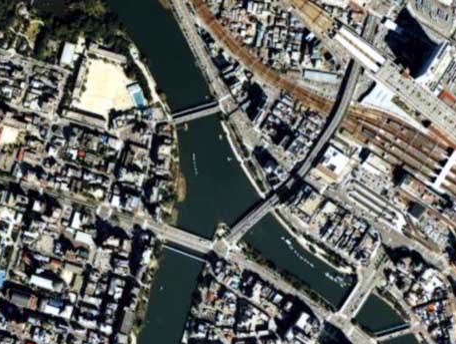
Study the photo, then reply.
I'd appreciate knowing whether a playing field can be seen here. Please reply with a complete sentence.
Yes, there's a playing field here.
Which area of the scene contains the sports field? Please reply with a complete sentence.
The sports field appears toward the top left of the photo.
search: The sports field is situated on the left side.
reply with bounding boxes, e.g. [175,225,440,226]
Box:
[72,60,135,120]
